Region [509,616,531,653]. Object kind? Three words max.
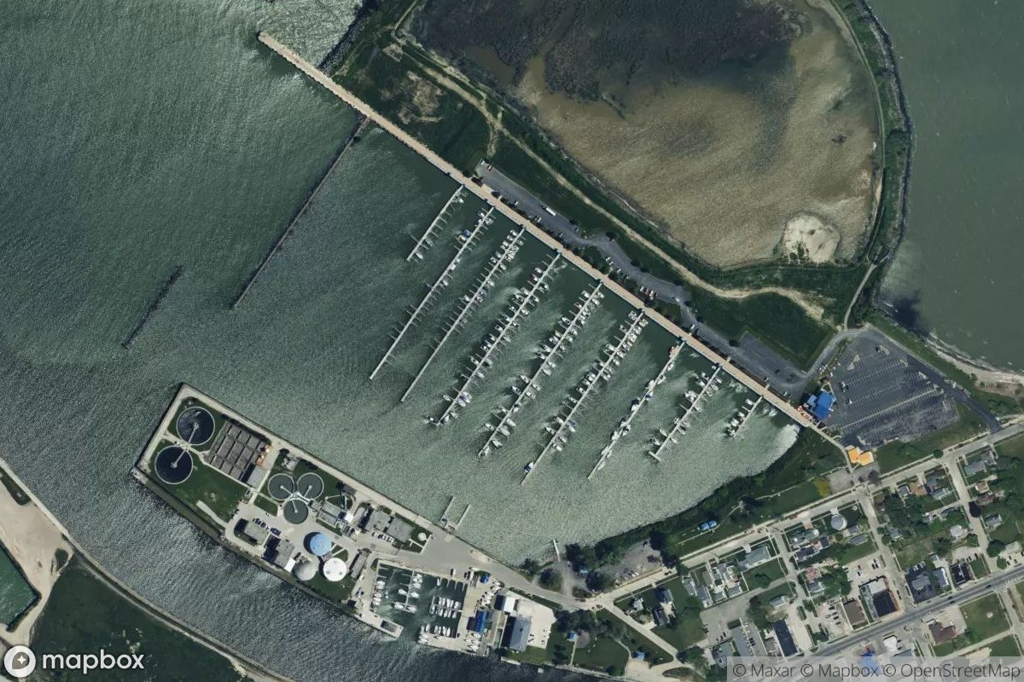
shed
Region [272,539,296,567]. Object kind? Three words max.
building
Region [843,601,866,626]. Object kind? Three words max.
building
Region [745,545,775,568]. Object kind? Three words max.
house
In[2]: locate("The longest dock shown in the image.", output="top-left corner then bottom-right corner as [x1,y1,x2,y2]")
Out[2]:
[259,32,815,430]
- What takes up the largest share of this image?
water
